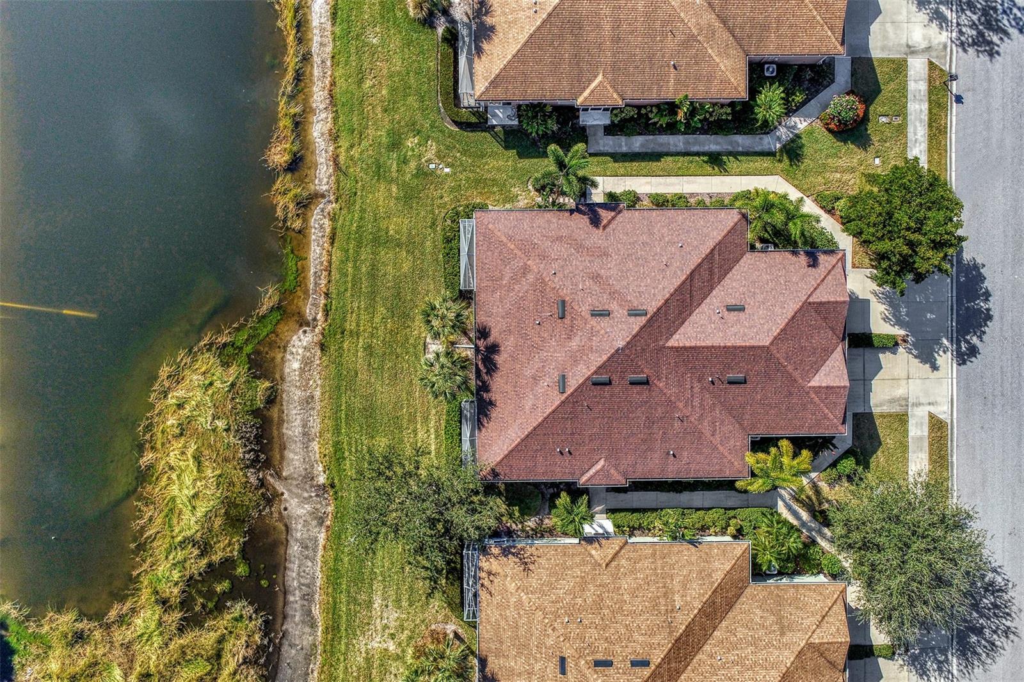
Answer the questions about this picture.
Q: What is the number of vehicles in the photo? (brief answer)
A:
zero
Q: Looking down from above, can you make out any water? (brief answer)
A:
Yes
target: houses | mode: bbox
[463,528,852,682]
[459,201,850,487]
[459,0,848,119]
